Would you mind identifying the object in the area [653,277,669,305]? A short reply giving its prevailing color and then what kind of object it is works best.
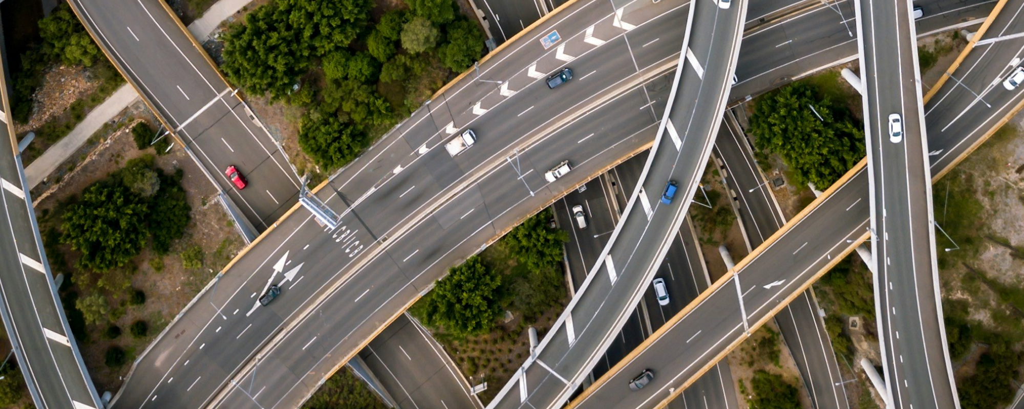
white car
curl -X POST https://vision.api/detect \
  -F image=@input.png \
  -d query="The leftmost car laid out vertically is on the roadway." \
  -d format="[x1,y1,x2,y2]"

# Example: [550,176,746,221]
[573,204,587,230]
